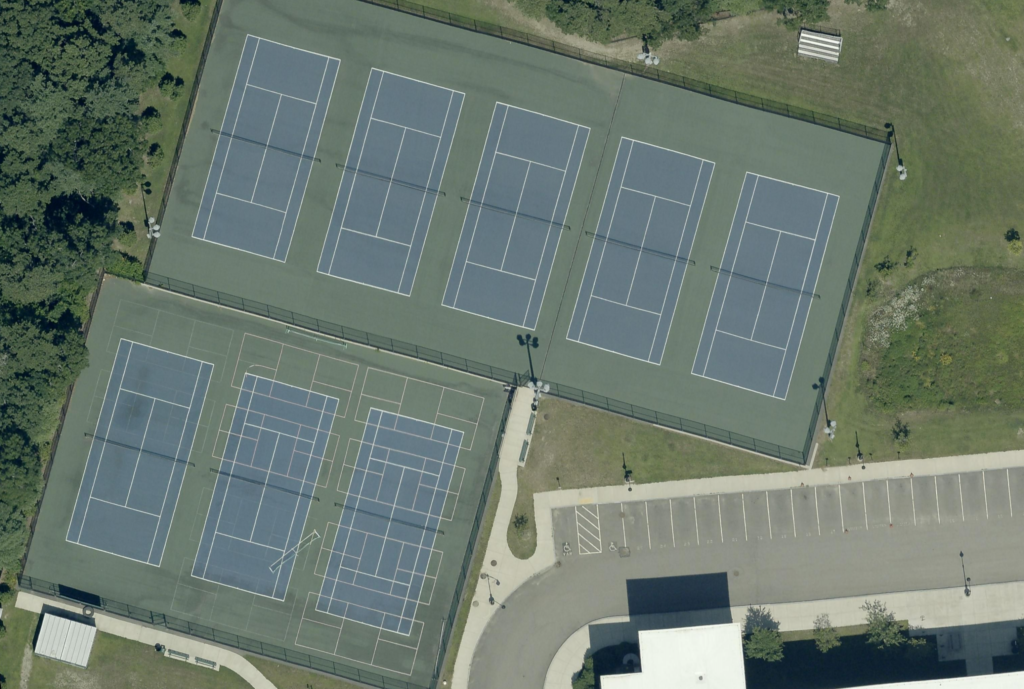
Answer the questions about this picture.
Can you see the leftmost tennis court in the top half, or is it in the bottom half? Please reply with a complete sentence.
Seen from above, the leftmost tennis court lies in the bottom half of the view.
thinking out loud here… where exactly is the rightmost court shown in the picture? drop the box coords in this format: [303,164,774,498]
[691,171,840,400]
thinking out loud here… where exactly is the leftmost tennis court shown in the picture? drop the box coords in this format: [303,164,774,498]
[66,338,215,566]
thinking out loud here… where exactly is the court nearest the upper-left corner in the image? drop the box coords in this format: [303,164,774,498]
[192,34,341,262]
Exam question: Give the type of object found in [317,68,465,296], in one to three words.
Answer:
tennis court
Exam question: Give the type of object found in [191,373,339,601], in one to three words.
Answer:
tennis court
